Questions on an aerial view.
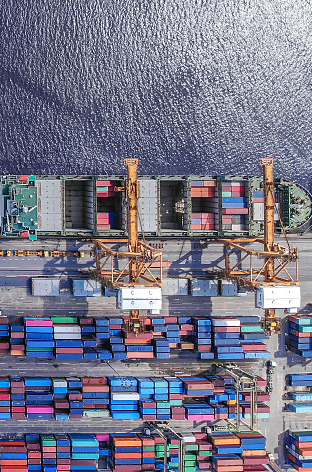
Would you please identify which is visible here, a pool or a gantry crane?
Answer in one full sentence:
There is a gantry crane in the scene.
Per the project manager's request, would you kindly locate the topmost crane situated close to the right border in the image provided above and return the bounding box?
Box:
[210,154,306,341]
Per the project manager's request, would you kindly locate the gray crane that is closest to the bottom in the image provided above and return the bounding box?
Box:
[144,420,185,472]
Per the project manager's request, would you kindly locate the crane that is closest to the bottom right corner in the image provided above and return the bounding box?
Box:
[211,363,259,434]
